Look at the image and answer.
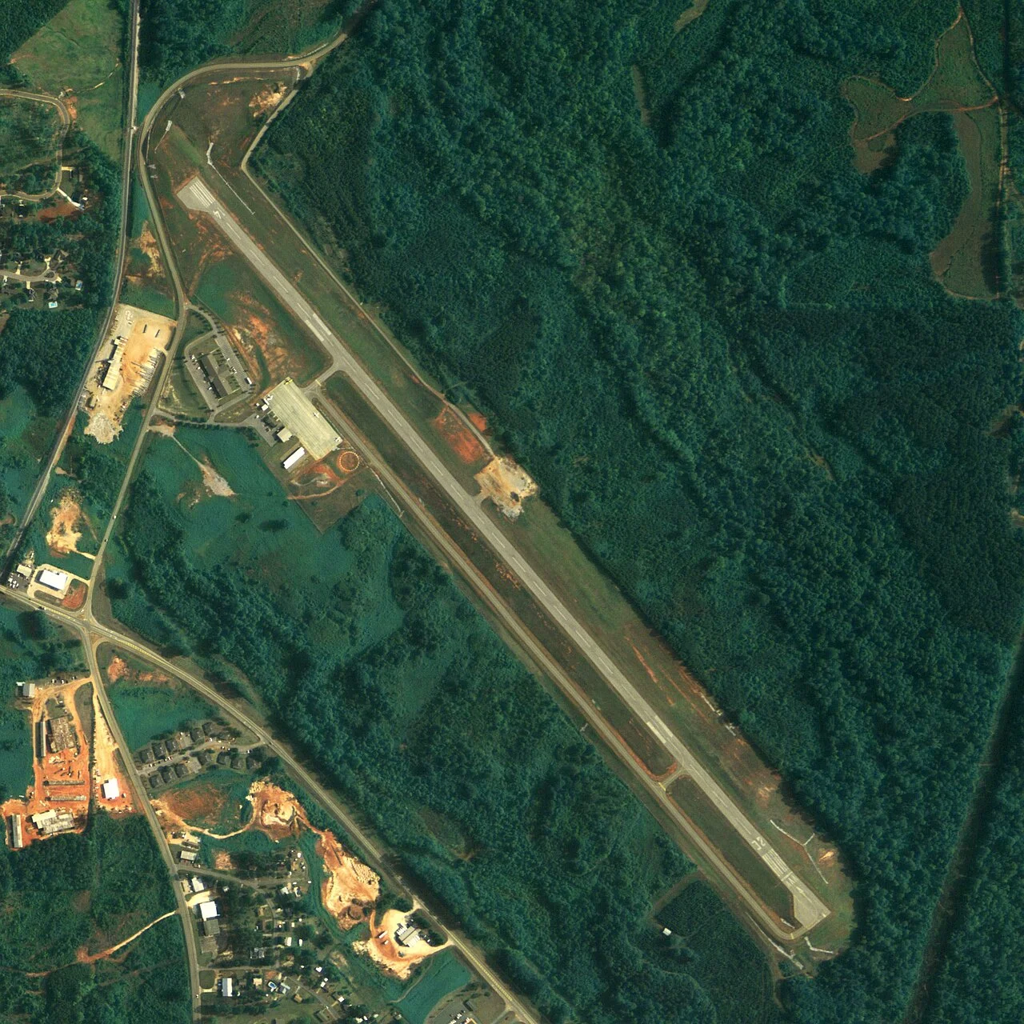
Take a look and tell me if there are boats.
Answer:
No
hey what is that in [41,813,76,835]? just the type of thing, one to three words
building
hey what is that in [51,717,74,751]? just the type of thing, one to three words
building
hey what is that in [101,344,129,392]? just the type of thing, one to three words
shed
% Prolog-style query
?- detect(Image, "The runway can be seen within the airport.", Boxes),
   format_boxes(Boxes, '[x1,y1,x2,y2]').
[177,177,831,929]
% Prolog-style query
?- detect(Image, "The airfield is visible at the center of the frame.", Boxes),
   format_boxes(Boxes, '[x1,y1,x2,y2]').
[177,177,831,938]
